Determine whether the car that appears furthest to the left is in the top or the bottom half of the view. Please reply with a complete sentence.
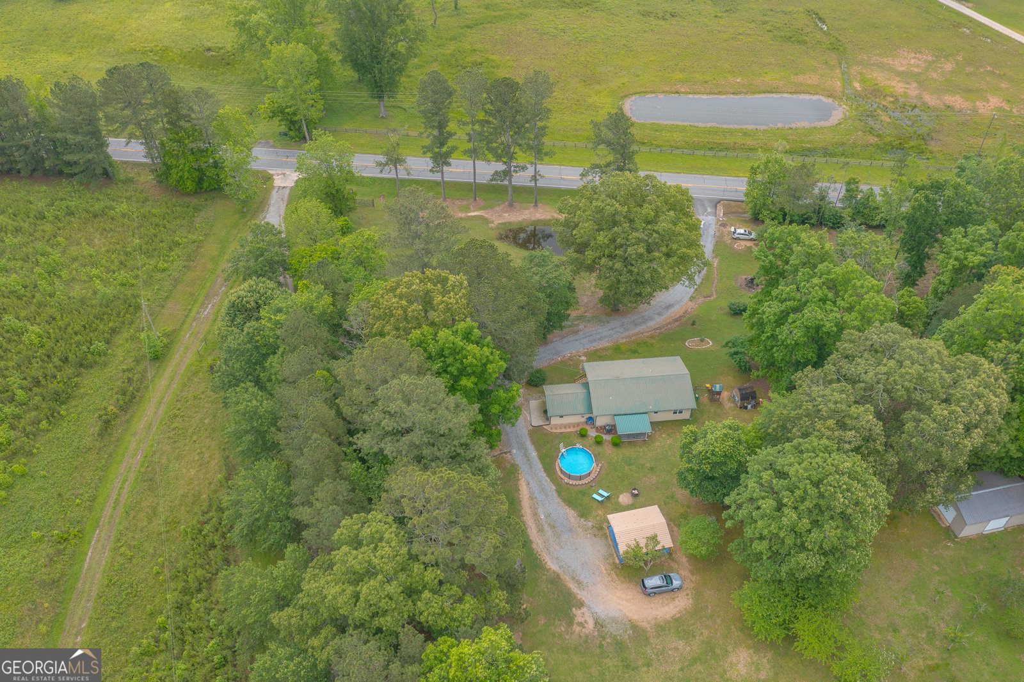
You can find the car that appears furthest to the left in the bottom half.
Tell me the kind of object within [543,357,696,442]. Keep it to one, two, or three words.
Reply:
house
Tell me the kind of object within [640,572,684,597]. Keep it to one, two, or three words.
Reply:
car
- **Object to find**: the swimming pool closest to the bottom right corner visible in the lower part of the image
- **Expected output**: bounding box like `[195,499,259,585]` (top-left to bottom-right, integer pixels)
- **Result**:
[557,444,596,482]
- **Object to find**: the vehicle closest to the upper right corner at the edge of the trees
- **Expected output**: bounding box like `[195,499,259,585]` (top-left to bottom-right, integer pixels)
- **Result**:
[730,226,759,241]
